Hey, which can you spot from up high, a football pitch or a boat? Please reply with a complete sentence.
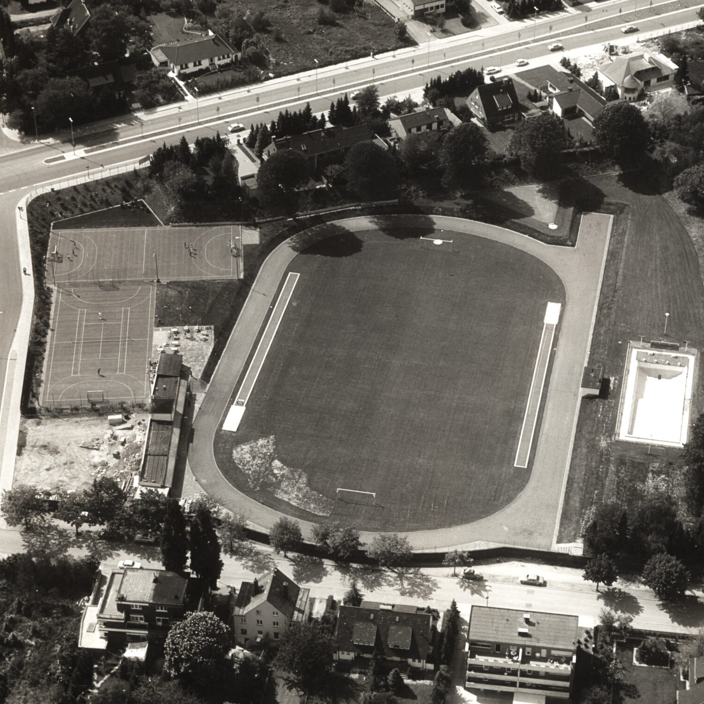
The one in the frame is a football pitch.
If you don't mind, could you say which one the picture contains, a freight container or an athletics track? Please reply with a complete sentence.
Visible in the photo is an athletics track.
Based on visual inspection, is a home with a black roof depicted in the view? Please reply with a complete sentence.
Yes, there's a home with a black roof down there.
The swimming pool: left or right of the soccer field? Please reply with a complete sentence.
Compared with the soccer field, the swimming pool is located further to the right.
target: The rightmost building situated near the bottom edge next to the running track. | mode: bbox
[464,605,578,704]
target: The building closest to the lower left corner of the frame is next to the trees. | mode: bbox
[78,565,190,659]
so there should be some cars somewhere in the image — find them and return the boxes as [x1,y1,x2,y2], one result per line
[520,575,544,586]
[547,42,564,51]
[621,24,638,33]
[486,65,501,75]
[513,57,530,66]
[118,558,142,569]
[458,570,483,582]
[349,90,359,98]
[227,124,246,132]
[491,3,504,13]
